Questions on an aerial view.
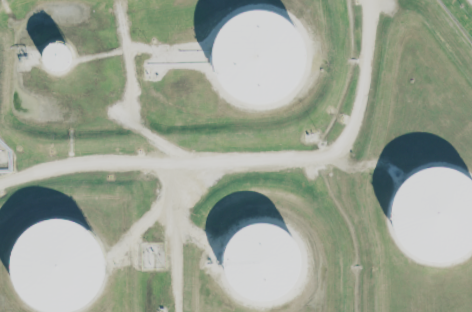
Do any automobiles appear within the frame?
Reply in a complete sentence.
No, no automobile is visible in the view.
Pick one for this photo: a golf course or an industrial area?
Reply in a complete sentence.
The picture captures an industrial area.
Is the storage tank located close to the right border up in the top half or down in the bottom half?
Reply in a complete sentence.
The bottom half of the photo is where the storage tank located close to the right border is.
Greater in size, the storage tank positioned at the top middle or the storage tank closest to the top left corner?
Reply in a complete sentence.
The storage tank positioned at the top middle is larger than the storage tank closest to the top left corner.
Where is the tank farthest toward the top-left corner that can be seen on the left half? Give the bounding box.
[40,42,72,75]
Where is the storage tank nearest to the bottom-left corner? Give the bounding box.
[7,218,106,312]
